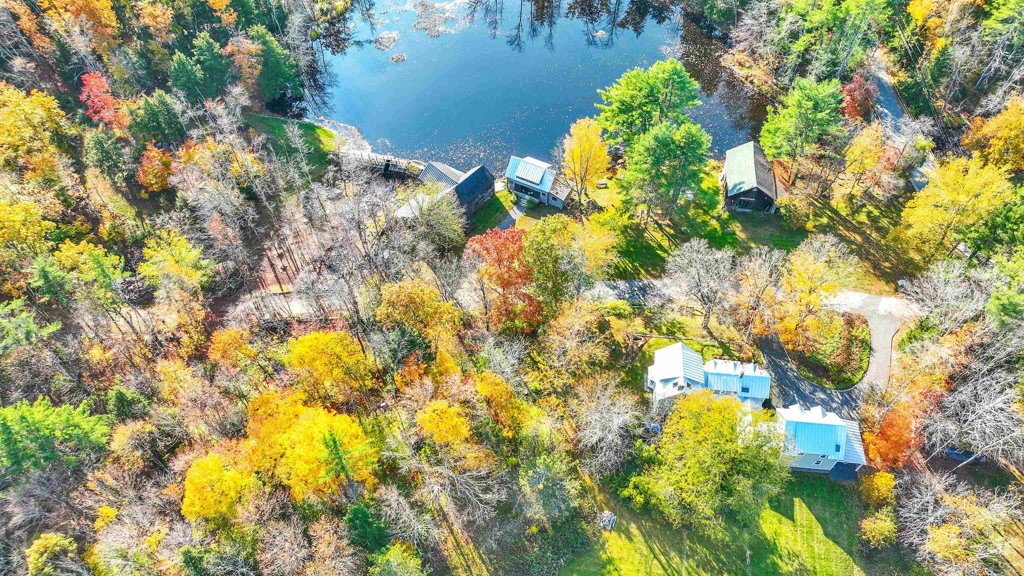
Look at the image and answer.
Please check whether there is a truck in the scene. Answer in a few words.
No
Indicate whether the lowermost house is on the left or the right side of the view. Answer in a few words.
right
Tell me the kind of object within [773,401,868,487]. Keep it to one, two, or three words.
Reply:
house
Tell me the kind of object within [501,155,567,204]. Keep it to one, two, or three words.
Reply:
house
